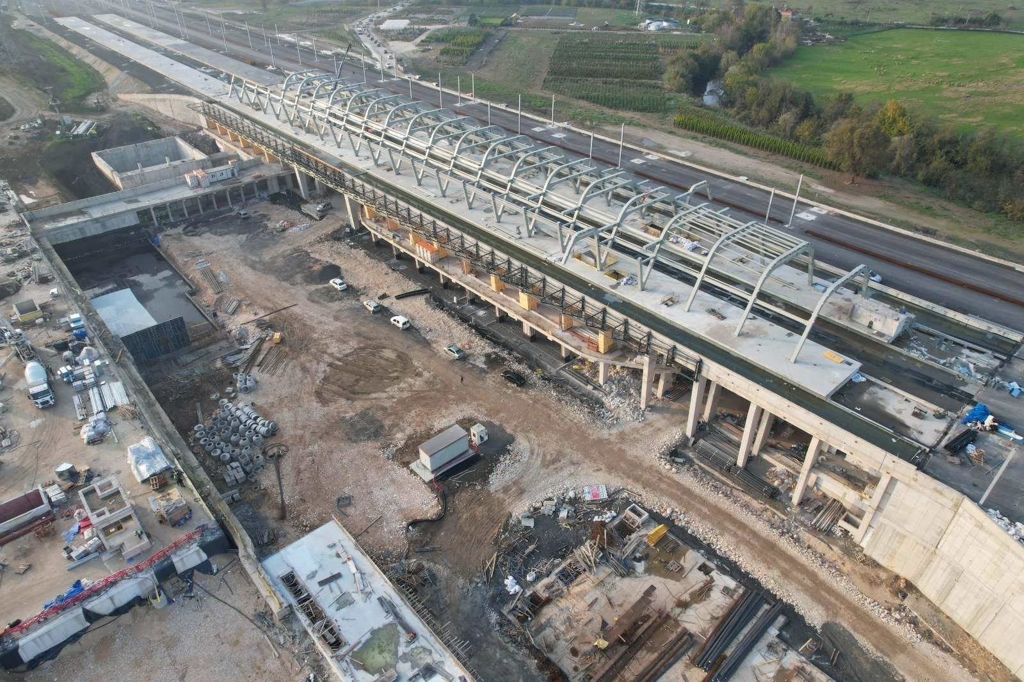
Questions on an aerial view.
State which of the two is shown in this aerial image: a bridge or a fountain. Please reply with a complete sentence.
The image shows a bridge.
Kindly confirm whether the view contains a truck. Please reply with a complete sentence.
Yes, the frame does contain a truck.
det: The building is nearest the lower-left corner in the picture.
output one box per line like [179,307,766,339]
[69,470,160,549]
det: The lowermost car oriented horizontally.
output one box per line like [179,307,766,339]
[499,372,528,387]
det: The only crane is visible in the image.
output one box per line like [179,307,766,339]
[319,43,354,146]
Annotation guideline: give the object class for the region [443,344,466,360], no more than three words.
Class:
car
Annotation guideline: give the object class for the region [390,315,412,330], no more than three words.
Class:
vehicle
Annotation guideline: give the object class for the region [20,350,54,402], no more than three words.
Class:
truck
